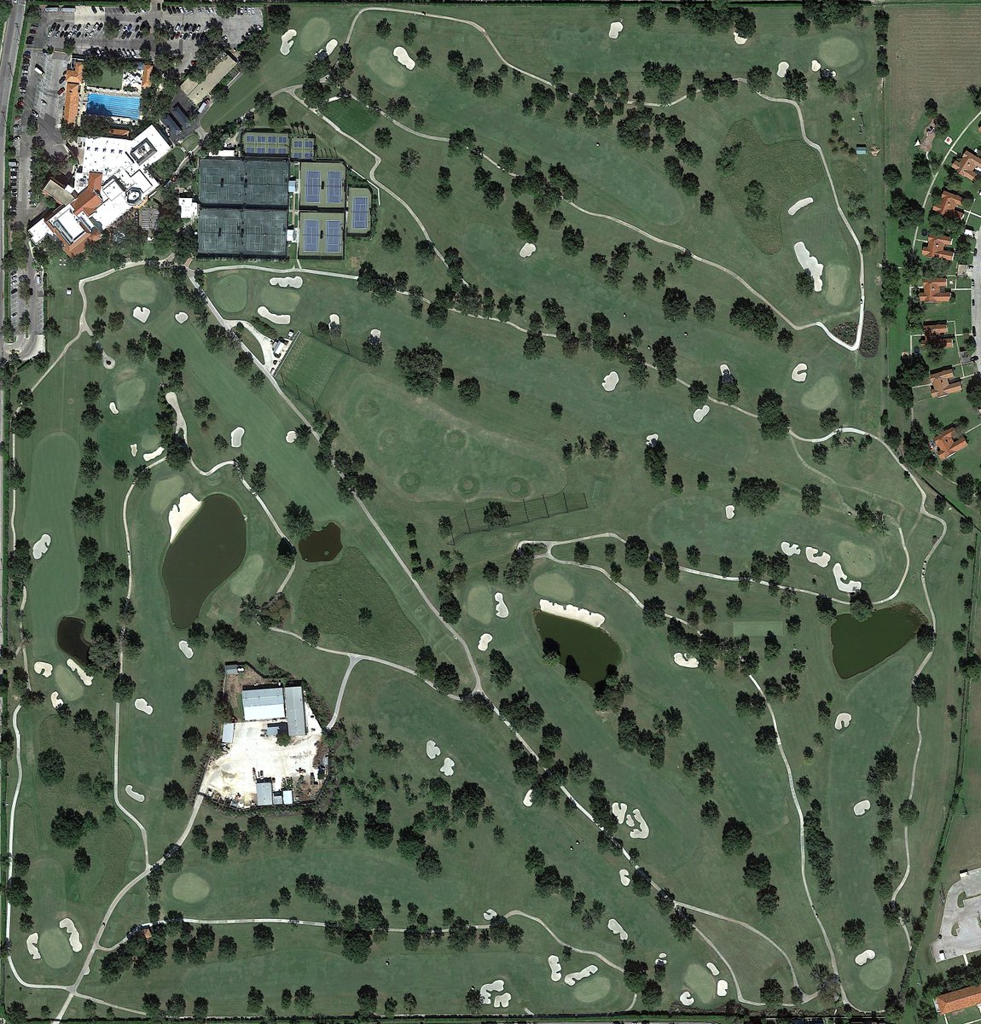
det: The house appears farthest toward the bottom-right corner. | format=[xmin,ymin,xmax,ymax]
[934,985,981,1015]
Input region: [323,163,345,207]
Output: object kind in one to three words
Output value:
tennis court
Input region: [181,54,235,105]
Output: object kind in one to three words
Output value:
building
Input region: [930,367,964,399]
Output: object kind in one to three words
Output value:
house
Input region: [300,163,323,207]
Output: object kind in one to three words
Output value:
tennis court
